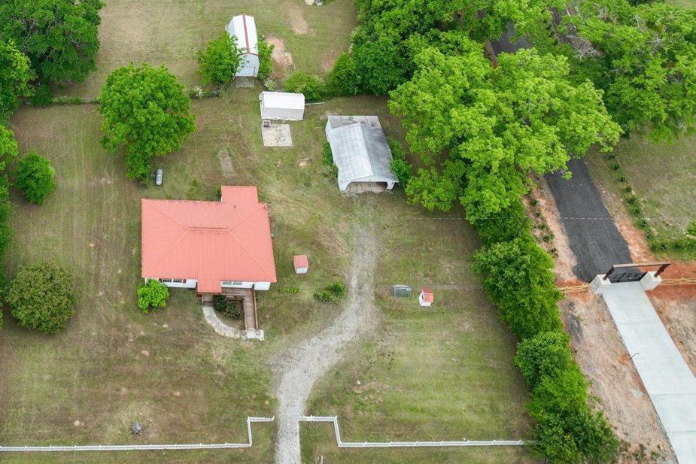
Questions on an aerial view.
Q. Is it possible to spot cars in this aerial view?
No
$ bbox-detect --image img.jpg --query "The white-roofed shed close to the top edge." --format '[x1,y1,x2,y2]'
[230,14,261,76]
